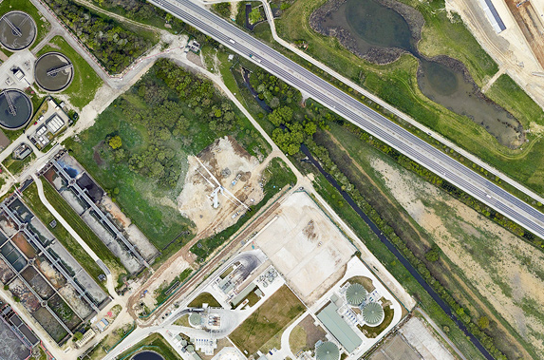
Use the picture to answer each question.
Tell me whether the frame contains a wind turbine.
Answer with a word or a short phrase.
Yes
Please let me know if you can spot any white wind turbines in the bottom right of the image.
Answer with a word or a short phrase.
No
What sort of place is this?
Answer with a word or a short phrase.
industrial area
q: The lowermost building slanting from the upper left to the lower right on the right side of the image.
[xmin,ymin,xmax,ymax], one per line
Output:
[317,302,363,354]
